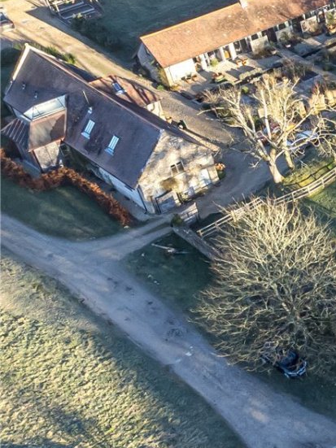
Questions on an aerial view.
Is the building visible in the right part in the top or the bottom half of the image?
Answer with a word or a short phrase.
top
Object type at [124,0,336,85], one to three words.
building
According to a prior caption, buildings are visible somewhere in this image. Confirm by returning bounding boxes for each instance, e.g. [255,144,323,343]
[0,42,230,216]
[124,0,336,85]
